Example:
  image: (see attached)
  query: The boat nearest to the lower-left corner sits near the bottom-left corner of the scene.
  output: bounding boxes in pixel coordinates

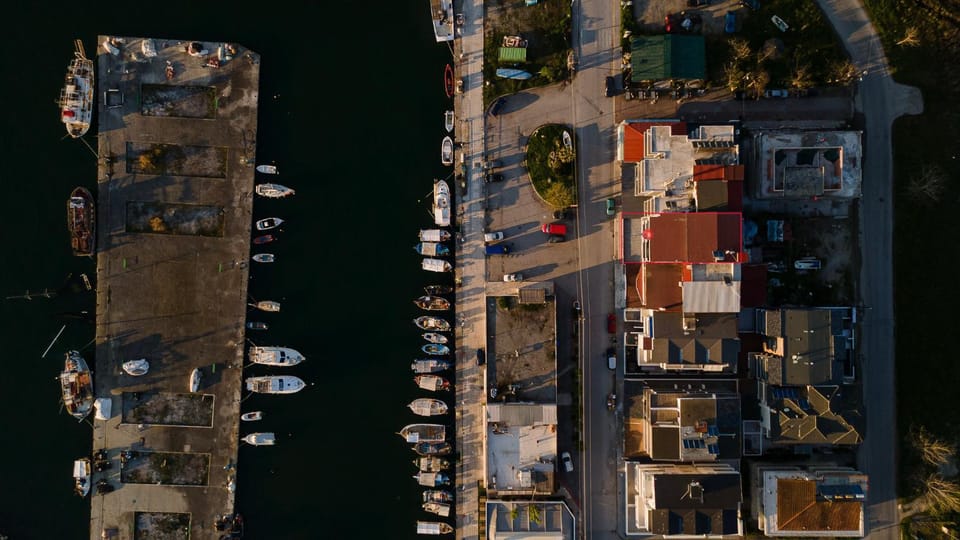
[70,458,90,501]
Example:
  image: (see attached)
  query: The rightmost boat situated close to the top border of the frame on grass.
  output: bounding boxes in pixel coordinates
[772,13,792,33]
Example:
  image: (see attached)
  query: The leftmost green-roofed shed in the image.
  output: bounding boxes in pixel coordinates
[499,48,526,64]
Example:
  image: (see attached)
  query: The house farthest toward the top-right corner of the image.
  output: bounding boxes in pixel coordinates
[753,129,866,200]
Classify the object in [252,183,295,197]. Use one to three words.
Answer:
boat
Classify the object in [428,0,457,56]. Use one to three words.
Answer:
ship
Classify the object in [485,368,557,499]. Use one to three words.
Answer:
building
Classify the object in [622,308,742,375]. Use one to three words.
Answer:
house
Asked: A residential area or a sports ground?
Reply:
residential area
